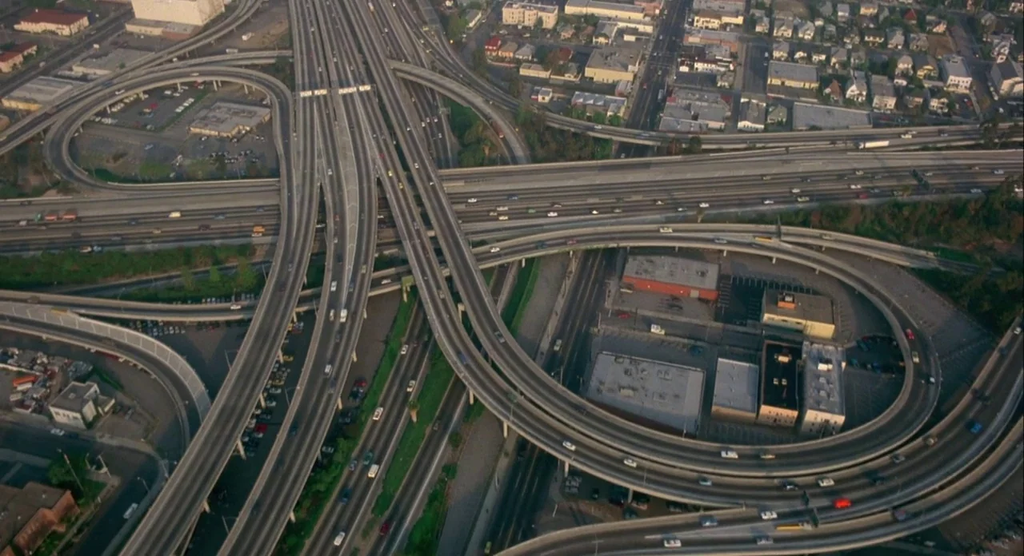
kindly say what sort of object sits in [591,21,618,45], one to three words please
building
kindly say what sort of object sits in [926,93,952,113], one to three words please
house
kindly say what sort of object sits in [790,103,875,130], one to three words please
building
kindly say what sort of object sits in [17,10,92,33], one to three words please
house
